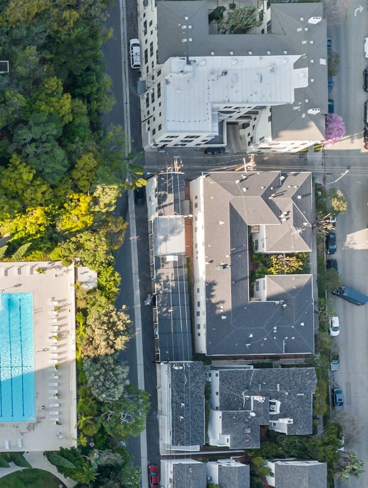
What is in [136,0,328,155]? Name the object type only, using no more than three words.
building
